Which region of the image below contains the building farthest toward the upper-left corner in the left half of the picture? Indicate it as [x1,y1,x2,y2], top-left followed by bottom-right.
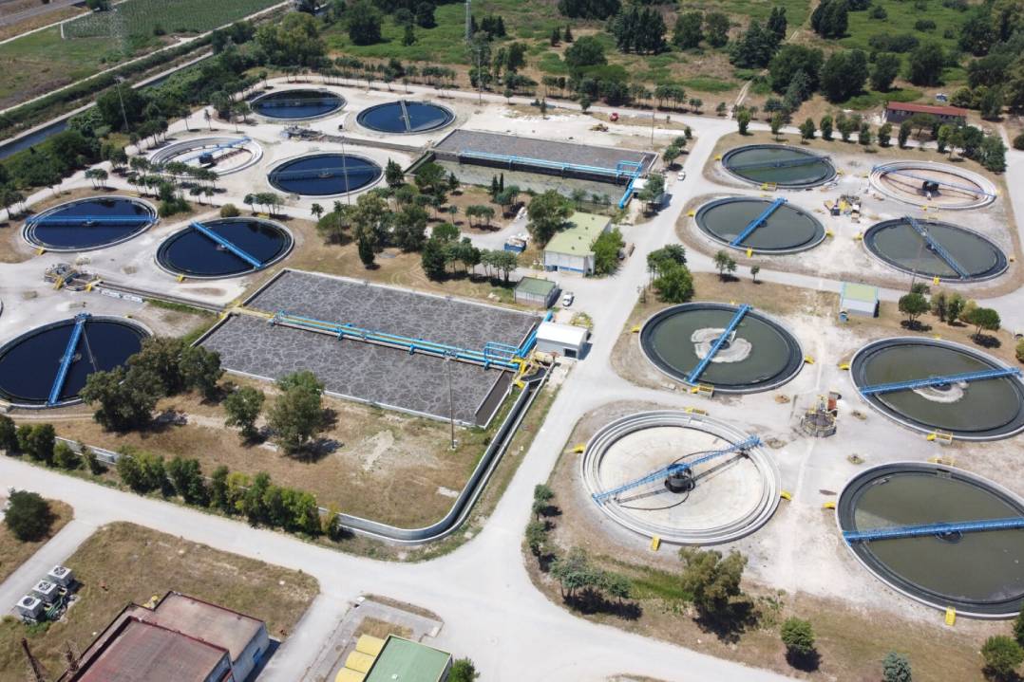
[32,259,97,291]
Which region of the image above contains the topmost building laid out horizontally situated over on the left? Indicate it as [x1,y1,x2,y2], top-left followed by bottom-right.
[278,124,322,141]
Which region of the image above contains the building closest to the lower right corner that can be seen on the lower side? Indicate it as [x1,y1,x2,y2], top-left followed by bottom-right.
[798,391,838,439]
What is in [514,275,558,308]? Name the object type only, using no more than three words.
shed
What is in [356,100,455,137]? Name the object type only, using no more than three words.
storage tank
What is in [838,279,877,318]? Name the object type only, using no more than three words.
shed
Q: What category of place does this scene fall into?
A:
industrial area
